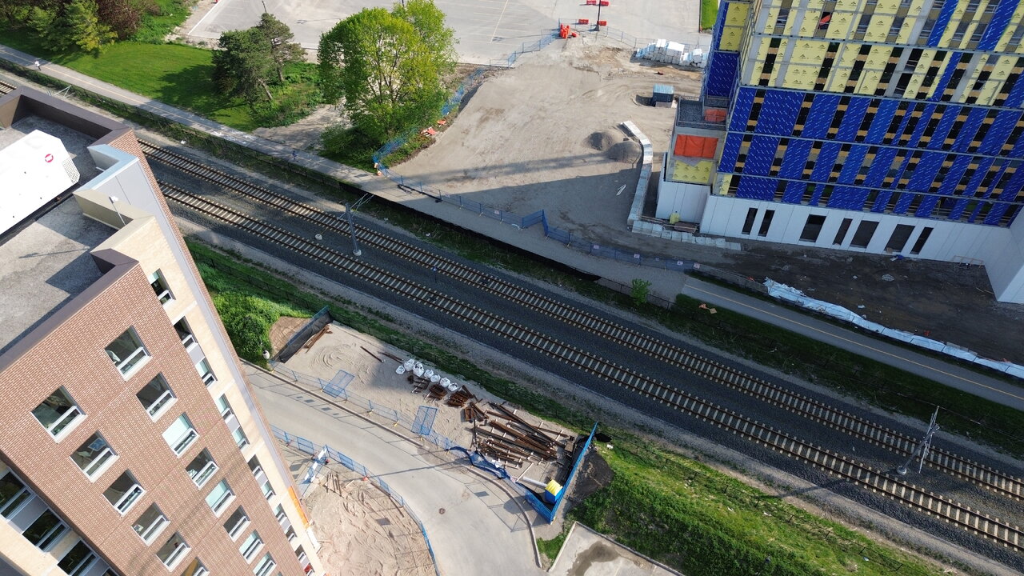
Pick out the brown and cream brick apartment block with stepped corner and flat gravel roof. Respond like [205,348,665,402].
[0,87,327,576]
